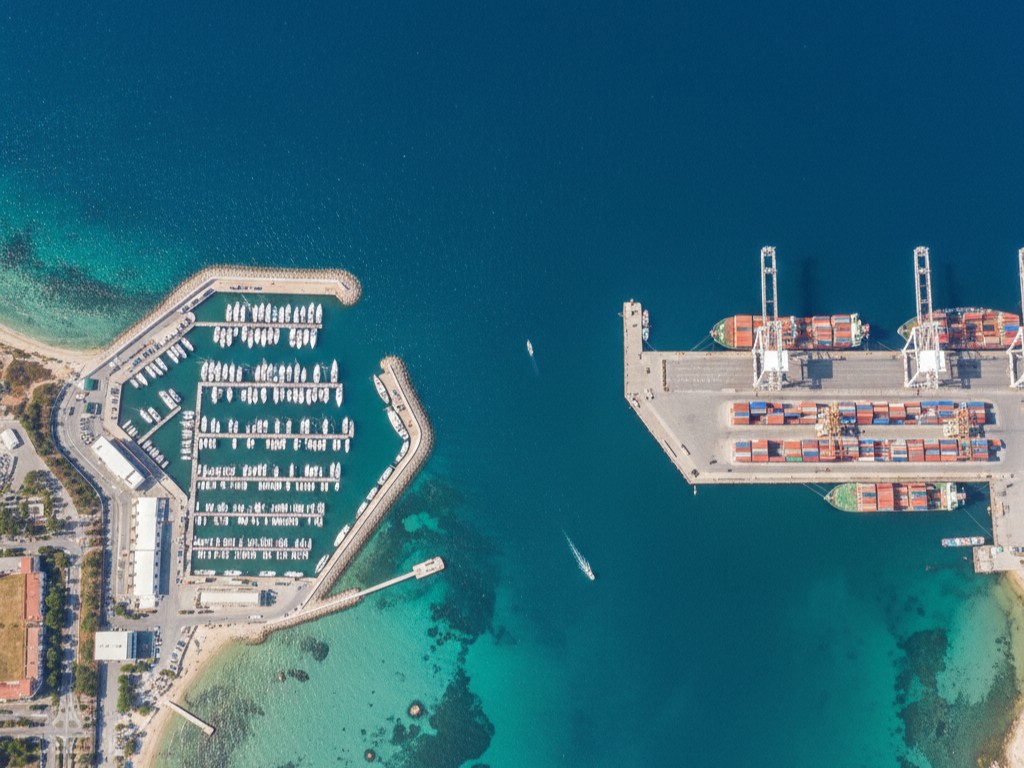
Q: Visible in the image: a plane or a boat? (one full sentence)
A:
The one in the frame is a boat.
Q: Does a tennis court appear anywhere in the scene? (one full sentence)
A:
No, I find no tennis court anywhere in the image.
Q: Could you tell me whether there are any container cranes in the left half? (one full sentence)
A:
No, the scene shows no container crane in the left half.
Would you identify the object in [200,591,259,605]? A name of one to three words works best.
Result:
building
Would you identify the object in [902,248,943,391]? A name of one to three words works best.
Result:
container crane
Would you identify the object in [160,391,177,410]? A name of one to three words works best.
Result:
boat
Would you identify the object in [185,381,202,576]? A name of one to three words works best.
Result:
pier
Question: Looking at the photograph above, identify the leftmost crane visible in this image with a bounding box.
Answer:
[751,247,787,391]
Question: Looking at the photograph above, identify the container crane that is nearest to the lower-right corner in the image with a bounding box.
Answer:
[942,400,973,469]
